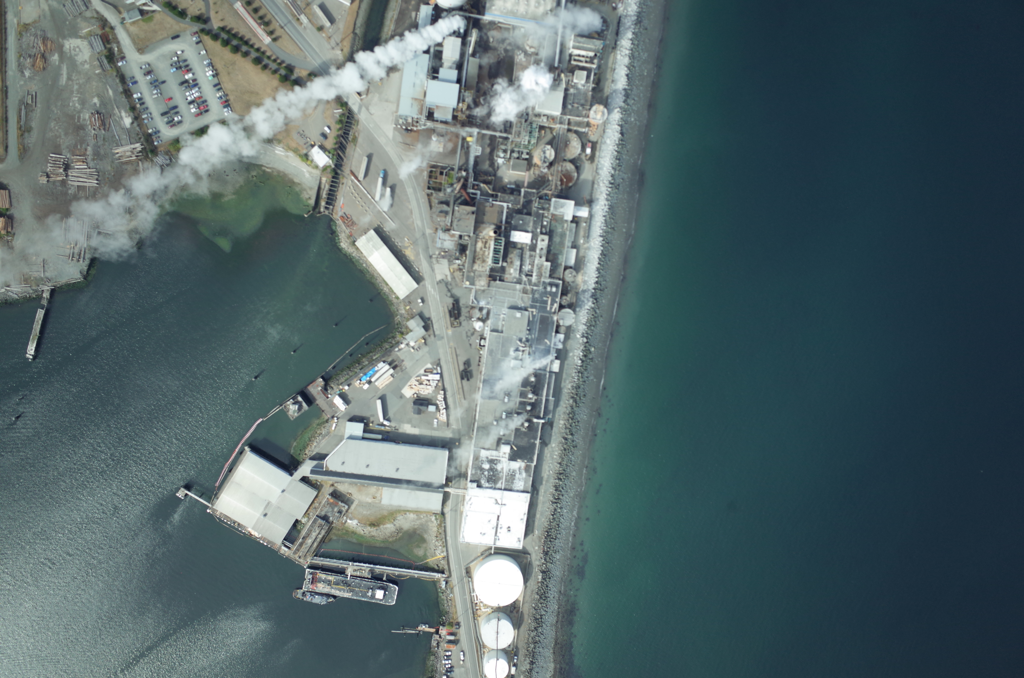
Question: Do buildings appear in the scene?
Yes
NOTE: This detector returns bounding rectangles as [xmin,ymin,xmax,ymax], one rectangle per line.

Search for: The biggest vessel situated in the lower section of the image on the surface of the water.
[302,568,399,605]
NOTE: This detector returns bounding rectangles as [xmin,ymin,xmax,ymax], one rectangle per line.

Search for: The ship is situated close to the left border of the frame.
[25,309,47,362]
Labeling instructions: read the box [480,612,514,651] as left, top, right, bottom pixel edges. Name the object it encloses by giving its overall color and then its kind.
white storage tank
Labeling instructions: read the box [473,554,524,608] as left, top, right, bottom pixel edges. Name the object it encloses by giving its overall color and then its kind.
white storage tank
